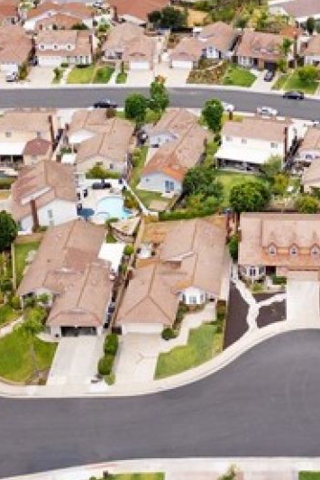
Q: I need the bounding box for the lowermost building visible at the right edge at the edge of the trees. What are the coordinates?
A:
[236,204,320,283]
